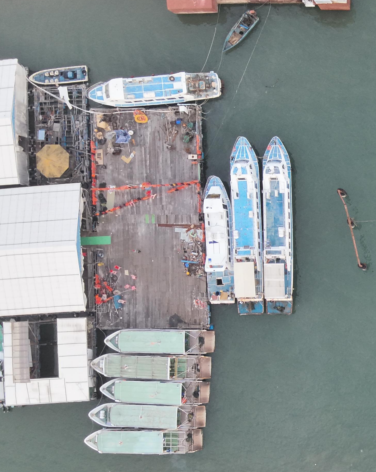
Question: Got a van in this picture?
No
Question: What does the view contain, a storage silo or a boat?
boat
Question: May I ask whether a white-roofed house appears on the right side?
No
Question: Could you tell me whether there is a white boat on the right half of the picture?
Yes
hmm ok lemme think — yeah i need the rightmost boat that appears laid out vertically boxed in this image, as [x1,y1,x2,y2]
[262,136,296,314]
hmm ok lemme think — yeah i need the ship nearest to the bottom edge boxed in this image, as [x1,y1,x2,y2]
[82,428,203,453]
